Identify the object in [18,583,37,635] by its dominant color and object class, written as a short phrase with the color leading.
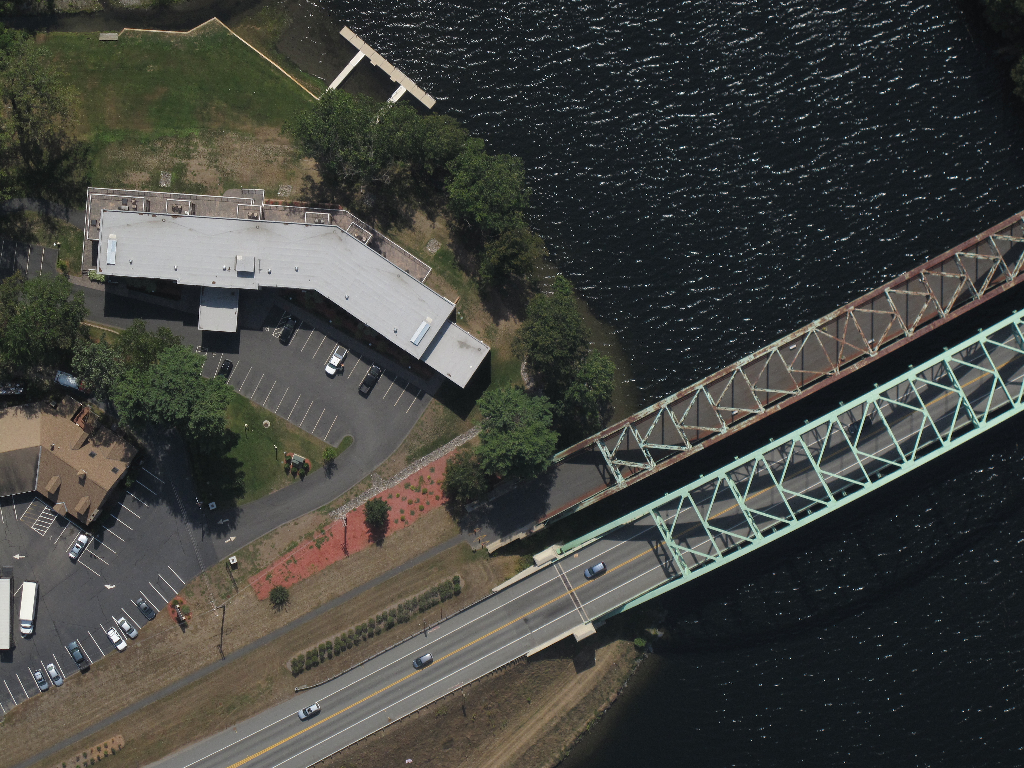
white vehicle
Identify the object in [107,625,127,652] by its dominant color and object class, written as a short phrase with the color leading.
white car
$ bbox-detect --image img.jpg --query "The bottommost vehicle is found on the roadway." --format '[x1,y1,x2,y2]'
[297,702,322,721]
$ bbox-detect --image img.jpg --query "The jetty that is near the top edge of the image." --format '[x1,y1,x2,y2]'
[328,26,436,109]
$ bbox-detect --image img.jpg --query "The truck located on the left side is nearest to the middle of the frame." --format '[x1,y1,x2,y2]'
[359,364,381,394]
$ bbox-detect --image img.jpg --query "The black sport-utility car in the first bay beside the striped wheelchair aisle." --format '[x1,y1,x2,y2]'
[279,316,298,343]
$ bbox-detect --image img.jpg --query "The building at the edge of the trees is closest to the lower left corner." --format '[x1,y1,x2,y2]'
[0,396,139,525]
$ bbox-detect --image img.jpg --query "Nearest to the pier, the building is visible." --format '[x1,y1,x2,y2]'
[97,209,490,384]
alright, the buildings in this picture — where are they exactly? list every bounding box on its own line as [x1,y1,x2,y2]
[97,209,490,384]
[0,396,139,525]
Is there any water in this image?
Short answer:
Yes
